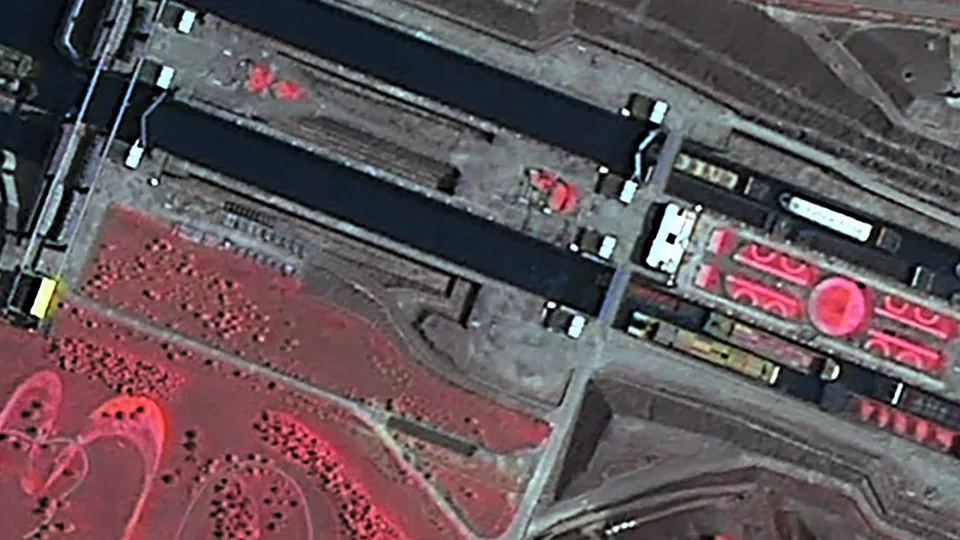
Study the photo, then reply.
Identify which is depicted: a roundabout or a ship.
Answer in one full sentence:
Looking from above, you can make out a ship.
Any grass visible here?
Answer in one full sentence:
Yes, some grass is visible.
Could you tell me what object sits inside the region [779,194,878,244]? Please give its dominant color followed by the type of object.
white ship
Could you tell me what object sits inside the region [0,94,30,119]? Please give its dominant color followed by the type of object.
gray ship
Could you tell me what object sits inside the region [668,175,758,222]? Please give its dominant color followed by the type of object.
black ship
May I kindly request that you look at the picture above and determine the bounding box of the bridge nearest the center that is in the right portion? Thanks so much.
[597,261,637,328]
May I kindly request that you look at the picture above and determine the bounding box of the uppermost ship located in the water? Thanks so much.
[0,42,39,87]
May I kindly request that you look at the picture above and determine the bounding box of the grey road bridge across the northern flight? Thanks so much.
[641,127,683,198]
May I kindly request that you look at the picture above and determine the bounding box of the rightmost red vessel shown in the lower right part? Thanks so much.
[856,394,960,454]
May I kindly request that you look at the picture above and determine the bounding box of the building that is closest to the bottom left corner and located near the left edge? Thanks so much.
[28,278,55,319]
